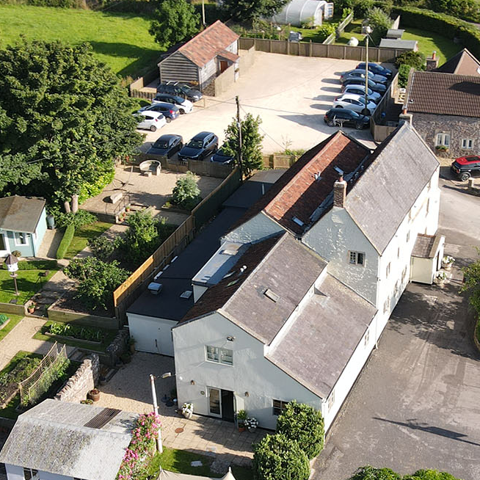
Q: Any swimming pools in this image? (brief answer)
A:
No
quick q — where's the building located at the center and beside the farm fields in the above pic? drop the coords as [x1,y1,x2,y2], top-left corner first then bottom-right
[125,103,453,449]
